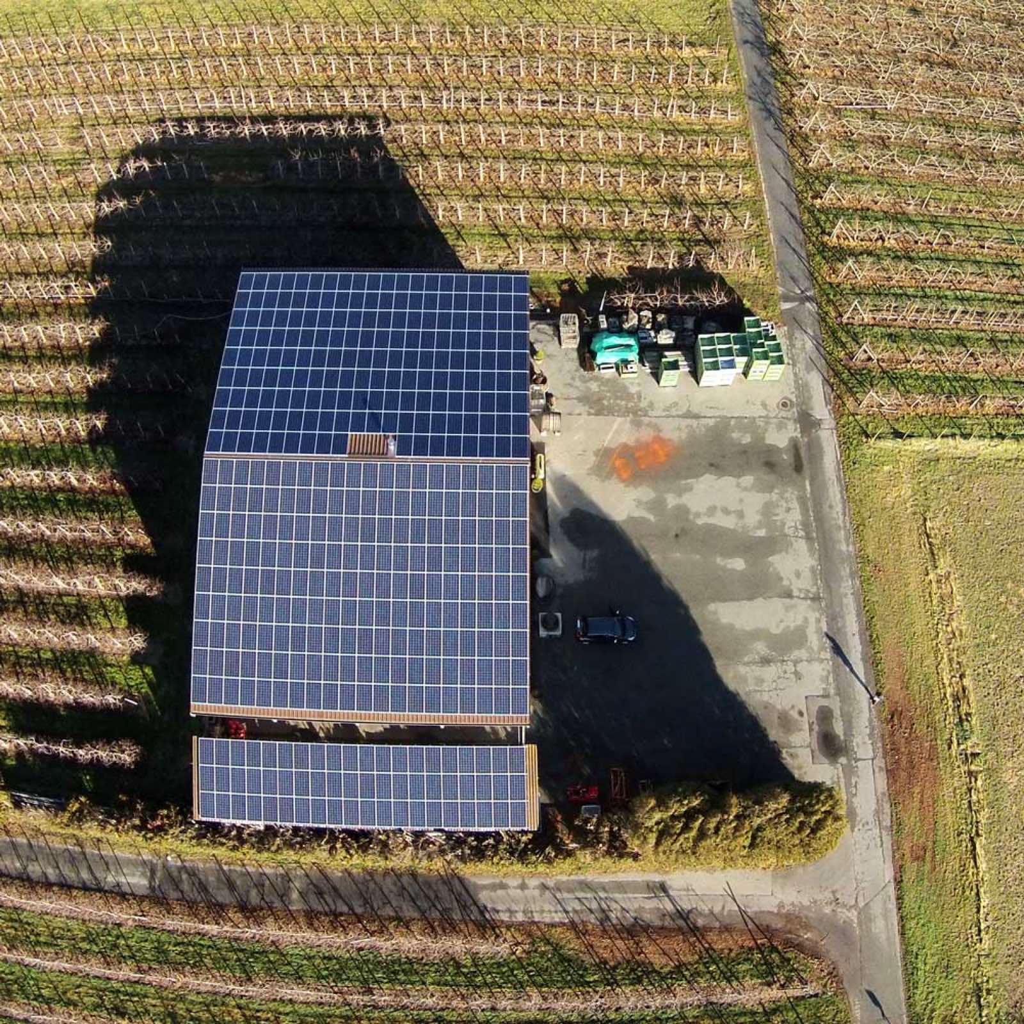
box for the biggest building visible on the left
[188,266,534,753]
